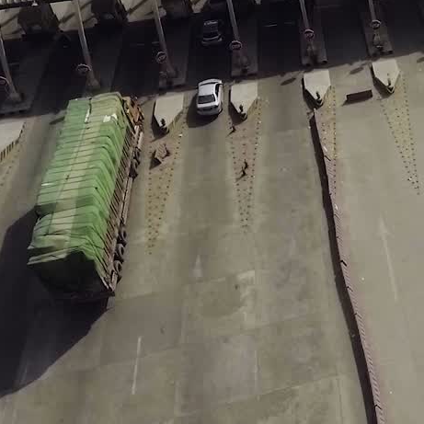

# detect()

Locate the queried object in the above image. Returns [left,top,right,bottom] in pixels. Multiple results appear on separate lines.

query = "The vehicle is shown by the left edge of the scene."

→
[14,90,142,306]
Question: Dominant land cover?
paved ground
